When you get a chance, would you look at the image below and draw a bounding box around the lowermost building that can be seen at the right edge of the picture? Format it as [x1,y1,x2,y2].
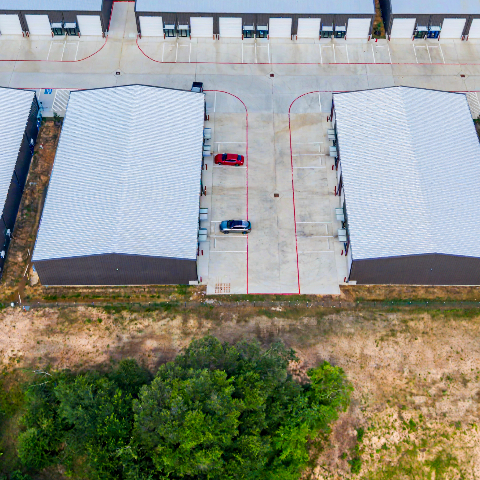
[326,84,480,287]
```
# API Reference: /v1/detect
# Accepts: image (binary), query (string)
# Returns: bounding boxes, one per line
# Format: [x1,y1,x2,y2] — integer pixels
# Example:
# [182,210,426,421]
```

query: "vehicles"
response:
[215,155,245,168]
[190,82,202,91]
[219,221,251,237]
